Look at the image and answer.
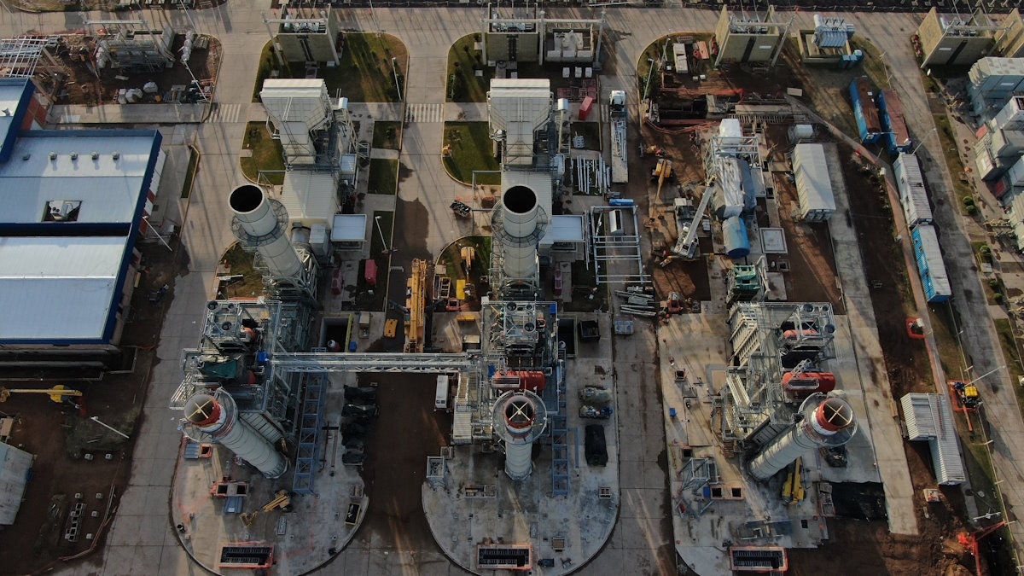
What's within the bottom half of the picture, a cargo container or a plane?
cargo container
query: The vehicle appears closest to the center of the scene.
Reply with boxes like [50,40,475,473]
[458,236,477,289]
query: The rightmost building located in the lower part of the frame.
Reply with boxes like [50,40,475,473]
[703,292,858,450]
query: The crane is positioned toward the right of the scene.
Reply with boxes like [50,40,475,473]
[659,164,722,263]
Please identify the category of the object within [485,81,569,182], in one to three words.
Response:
house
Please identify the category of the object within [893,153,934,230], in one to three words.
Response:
shipping container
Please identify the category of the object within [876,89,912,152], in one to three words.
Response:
shipping container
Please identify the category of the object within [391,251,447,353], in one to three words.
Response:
crane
